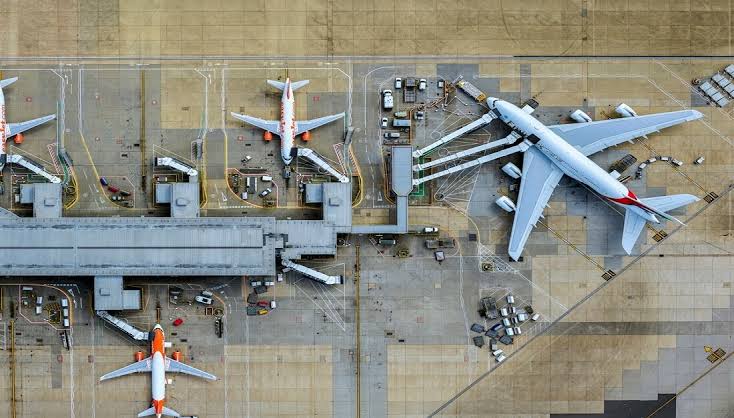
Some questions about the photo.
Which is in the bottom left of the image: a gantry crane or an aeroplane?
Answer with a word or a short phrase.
aeroplane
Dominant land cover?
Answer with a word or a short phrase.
paved ground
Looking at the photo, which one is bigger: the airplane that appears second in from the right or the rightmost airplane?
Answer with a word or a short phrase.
the rightmost airplane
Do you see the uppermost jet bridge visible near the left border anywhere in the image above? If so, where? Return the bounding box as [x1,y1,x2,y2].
[6,153,62,183]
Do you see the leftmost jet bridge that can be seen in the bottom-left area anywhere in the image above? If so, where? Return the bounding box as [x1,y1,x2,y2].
[95,310,153,341]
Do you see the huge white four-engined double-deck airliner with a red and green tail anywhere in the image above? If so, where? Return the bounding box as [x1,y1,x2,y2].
[486,97,707,259]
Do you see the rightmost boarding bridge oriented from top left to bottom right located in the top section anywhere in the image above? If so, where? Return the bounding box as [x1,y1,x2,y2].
[293,146,348,182]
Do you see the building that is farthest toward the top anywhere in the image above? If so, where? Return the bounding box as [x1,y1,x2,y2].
[391,146,413,196]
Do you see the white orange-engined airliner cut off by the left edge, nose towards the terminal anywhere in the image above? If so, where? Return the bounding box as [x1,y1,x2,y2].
[0,77,56,170]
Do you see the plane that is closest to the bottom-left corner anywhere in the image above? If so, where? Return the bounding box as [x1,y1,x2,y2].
[96,323,220,418]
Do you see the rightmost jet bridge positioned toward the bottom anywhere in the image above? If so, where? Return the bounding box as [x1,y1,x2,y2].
[282,260,344,286]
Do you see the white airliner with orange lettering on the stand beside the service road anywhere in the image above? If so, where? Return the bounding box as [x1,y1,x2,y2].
[232,79,345,165]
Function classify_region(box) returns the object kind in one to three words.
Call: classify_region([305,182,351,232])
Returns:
building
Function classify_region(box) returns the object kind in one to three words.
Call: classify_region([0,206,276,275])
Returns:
building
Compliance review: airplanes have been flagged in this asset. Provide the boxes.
[232,79,345,165]
[486,97,707,259]
[96,323,220,418]
[0,77,56,170]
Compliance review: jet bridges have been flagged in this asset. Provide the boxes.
[413,138,538,185]
[413,110,499,157]
[95,310,153,341]
[6,153,62,183]
[156,156,199,176]
[413,133,523,171]
[282,260,344,286]
[293,146,348,182]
